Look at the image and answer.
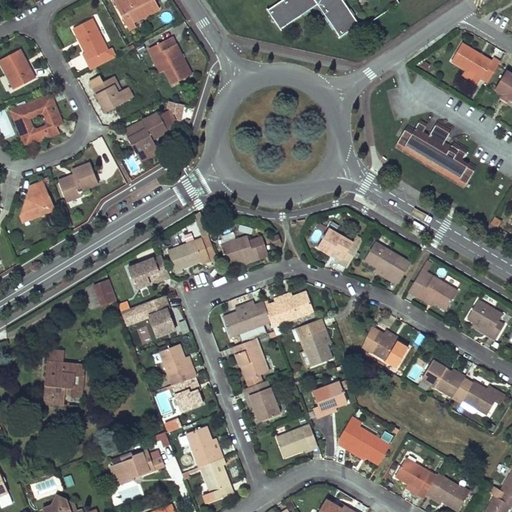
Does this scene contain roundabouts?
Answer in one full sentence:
Yes, I can see a roundabout in this picture.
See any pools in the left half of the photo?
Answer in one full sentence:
Yes, in the left half of the photo there is a pool.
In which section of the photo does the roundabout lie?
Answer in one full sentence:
The roundabout is in the top part of the image.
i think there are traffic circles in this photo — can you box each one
[206,62,351,208]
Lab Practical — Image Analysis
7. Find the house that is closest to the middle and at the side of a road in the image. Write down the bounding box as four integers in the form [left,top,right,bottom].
[222,235,269,264]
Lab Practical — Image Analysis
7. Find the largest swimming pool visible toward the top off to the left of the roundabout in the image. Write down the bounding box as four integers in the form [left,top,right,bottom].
[124,152,142,176]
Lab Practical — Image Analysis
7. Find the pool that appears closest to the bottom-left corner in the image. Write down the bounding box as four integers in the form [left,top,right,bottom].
[34,478,58,492]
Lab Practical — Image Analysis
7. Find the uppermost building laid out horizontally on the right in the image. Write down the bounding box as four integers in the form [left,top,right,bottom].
[267,0,360,38]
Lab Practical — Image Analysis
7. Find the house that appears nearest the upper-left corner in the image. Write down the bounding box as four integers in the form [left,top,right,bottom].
[0,49,37,89]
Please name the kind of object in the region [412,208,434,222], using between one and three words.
vehicle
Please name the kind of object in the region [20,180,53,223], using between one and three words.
house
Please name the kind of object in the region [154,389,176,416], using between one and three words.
swimming pool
